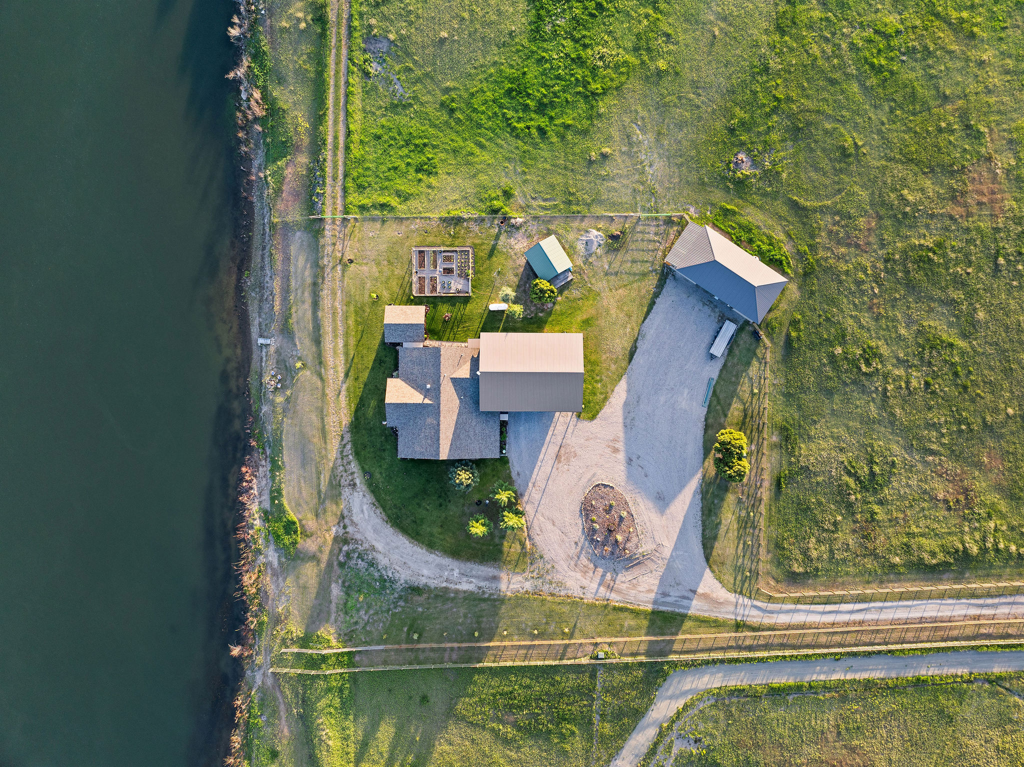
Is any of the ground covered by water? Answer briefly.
Yes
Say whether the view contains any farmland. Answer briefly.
Yes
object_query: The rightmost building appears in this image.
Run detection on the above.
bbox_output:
[665,222,789,325]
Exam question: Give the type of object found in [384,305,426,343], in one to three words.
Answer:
shed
